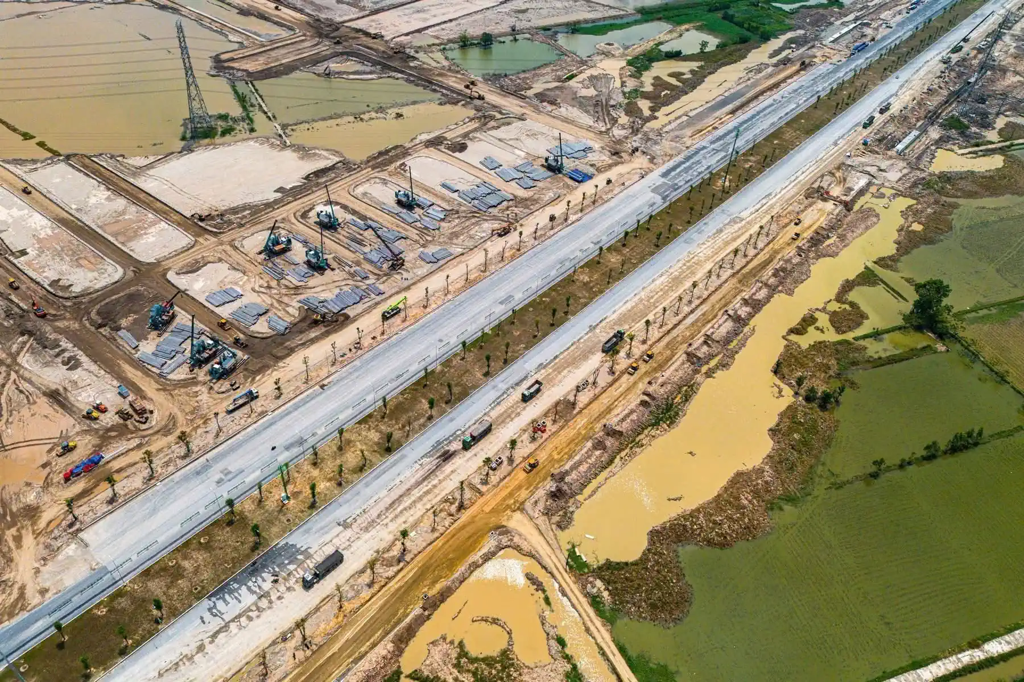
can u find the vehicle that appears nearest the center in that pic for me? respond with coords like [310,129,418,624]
[520,373,547,400]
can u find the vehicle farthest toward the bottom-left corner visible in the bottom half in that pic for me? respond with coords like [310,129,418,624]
[55,438,77,454]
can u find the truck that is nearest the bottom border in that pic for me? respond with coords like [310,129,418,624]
[300,542,344,585]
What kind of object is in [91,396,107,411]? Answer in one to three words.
work vehicle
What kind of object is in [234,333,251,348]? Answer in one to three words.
work vehicle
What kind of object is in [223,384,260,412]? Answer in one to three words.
truck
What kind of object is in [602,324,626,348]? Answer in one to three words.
truck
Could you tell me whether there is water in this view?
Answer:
Yes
